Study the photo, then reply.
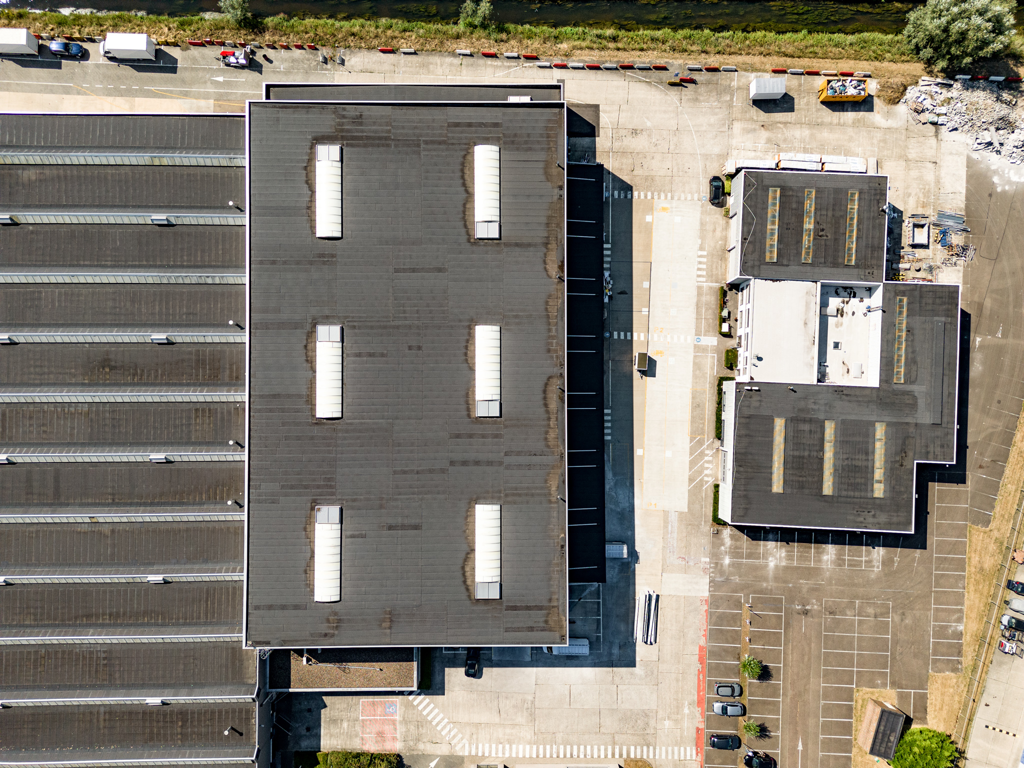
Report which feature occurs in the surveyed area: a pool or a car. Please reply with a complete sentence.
There is a car in the scene.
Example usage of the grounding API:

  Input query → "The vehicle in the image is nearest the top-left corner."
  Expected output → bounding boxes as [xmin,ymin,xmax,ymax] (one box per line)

[0,32,46,60]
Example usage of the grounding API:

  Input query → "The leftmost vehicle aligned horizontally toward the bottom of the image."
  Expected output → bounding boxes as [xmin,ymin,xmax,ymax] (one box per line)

[545,640,590,660]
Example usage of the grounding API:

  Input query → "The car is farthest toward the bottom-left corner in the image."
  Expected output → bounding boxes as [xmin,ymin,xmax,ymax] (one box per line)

[465,648,480,679]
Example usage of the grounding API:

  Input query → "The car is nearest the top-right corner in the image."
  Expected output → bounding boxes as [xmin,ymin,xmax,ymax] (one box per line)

[708,175,725,206]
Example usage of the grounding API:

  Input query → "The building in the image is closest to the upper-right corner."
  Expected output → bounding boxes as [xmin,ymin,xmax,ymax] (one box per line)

[725,169,889,285]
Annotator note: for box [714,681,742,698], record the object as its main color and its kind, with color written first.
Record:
gray car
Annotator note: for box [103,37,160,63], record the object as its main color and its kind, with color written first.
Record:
white truck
